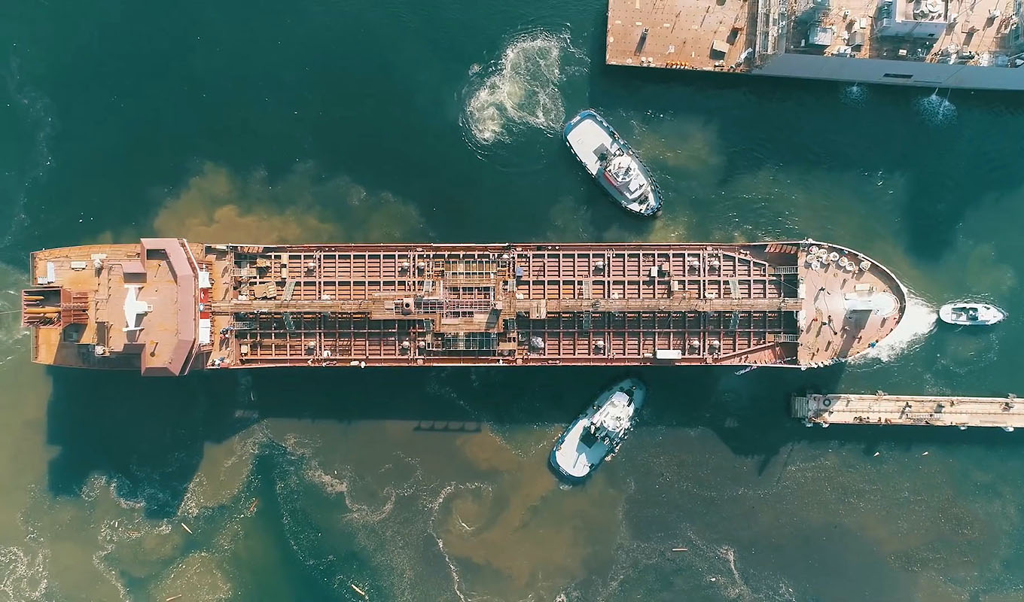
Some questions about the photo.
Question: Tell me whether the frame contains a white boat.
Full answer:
Yes, the image includes a white boat.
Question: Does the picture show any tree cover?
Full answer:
No, no tree cover is visible.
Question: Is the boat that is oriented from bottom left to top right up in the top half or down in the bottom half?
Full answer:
It is in the bottom half that the boat that is oriented from bottom left to top right appears.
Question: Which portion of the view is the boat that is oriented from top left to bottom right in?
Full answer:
You can find the boat that is oriented from top left to bottom right in the top area of the picture.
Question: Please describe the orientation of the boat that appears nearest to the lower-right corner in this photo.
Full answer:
The boat that appears nearest to the lower-right corner runs from left to right in the image.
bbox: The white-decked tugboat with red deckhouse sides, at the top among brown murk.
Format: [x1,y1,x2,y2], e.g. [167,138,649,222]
[562,109,662,214]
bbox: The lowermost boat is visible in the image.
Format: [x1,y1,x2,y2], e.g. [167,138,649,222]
[547,378,647,486]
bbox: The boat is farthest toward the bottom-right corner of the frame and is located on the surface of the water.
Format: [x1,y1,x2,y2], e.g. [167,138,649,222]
[938,301,1007,326]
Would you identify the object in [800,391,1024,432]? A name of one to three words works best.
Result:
pier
